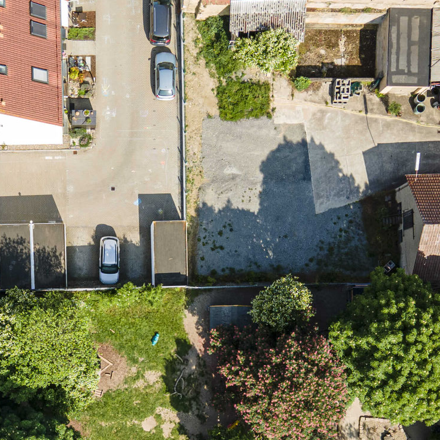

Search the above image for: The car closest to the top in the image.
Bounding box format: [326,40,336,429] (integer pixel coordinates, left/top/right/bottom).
[147,0,174,49]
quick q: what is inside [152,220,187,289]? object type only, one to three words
building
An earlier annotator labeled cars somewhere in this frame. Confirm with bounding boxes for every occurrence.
[153,54,178,103]
[147,0,174,49]
[96,234,122,285]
